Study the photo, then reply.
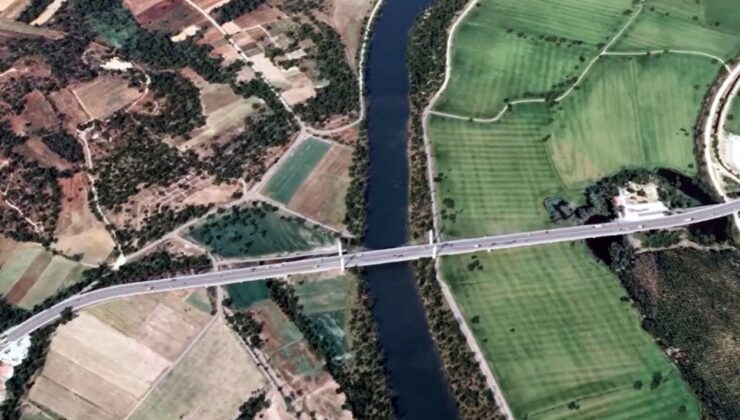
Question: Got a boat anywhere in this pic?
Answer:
No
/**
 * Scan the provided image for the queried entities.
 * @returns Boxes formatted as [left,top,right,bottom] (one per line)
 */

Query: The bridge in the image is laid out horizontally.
[0,196,740,353]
